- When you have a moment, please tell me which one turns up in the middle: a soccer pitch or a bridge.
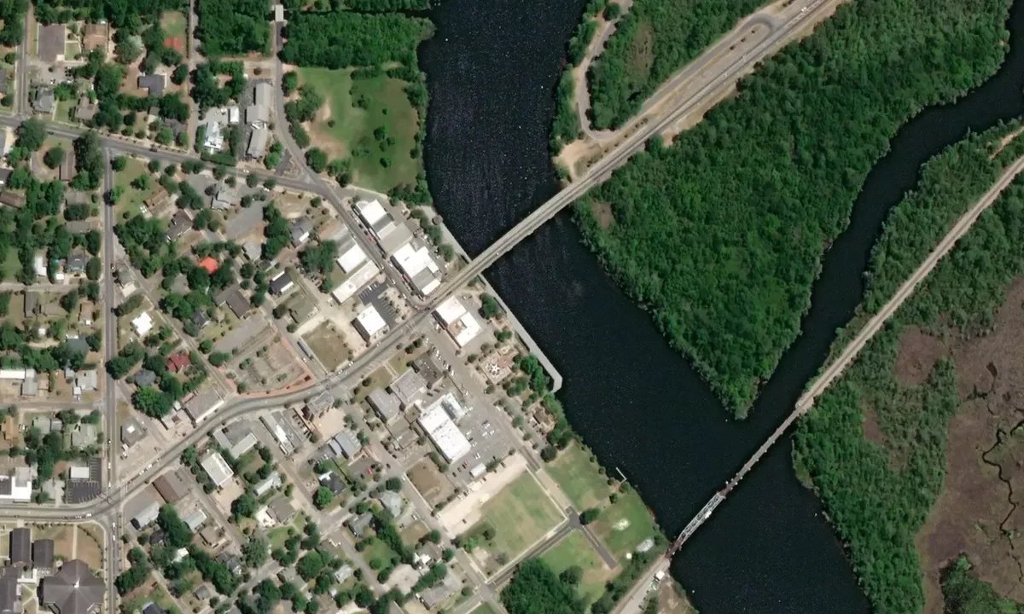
bridge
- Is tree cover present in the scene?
Yes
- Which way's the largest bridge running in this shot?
diagonally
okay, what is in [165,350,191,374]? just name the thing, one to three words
house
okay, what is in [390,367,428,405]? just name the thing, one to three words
building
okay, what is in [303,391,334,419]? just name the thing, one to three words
building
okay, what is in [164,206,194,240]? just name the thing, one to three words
house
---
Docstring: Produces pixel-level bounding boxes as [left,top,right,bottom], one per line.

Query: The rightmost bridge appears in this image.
[667,405,802,559]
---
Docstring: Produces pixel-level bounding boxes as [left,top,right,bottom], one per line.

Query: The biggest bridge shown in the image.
[411,174,596,319]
